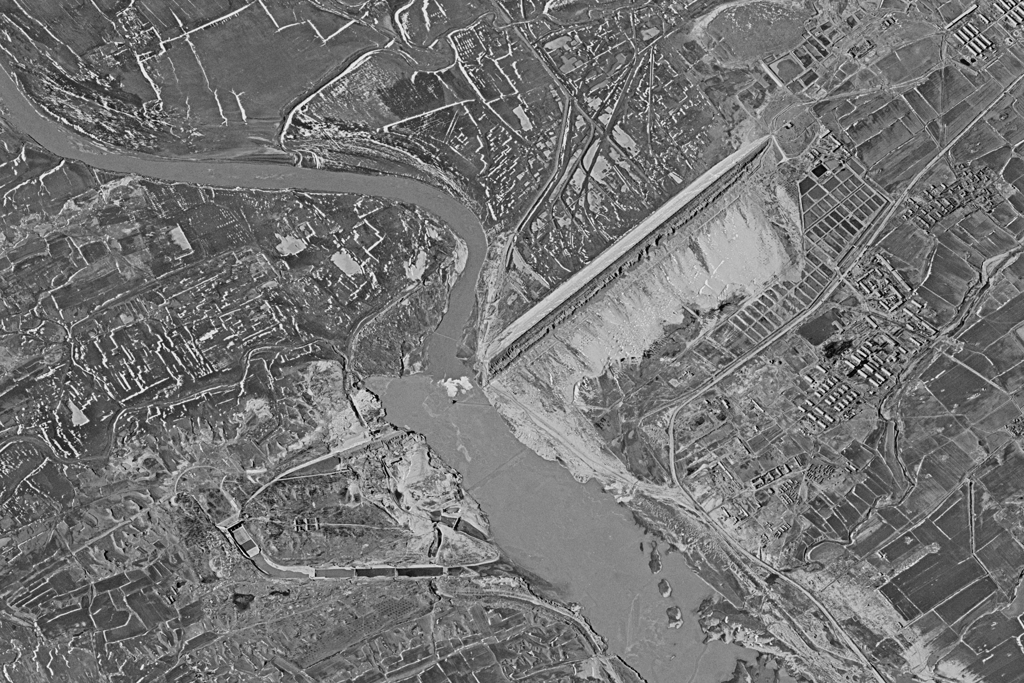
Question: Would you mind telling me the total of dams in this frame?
2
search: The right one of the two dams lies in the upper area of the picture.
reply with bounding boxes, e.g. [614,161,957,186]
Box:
[478,134,772,368]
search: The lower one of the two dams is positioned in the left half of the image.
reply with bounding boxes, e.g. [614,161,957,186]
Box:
[268,428,410,480]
